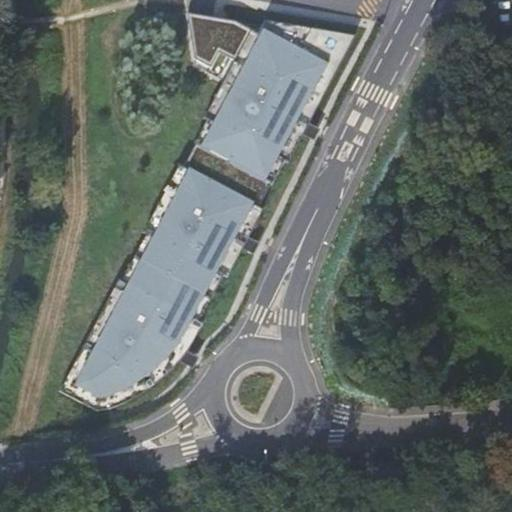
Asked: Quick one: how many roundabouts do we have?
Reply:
1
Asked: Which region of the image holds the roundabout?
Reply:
bottom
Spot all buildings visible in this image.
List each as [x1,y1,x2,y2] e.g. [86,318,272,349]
[197,20,356,182]
[64,164,263,406]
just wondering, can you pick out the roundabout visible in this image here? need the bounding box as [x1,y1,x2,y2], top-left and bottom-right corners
[203,338,317,452]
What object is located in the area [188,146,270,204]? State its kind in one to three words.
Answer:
building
